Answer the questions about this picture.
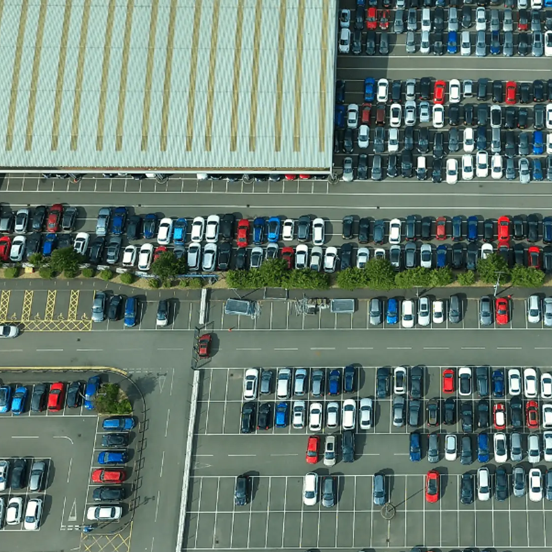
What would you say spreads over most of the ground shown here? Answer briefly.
paved ground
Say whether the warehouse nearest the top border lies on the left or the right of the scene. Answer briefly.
left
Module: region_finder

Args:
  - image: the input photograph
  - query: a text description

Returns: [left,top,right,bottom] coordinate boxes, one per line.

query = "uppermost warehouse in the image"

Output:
[0,0,341,181]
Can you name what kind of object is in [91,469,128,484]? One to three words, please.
car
